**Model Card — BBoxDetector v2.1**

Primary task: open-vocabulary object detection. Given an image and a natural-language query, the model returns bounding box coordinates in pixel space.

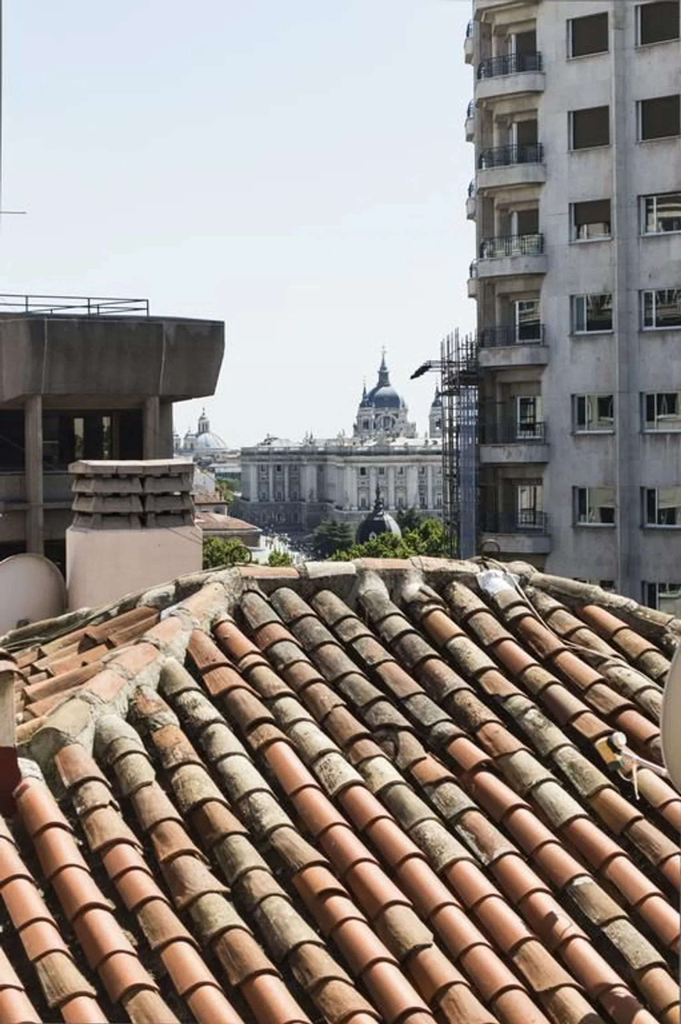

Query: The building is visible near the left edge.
[0,297,222,619]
